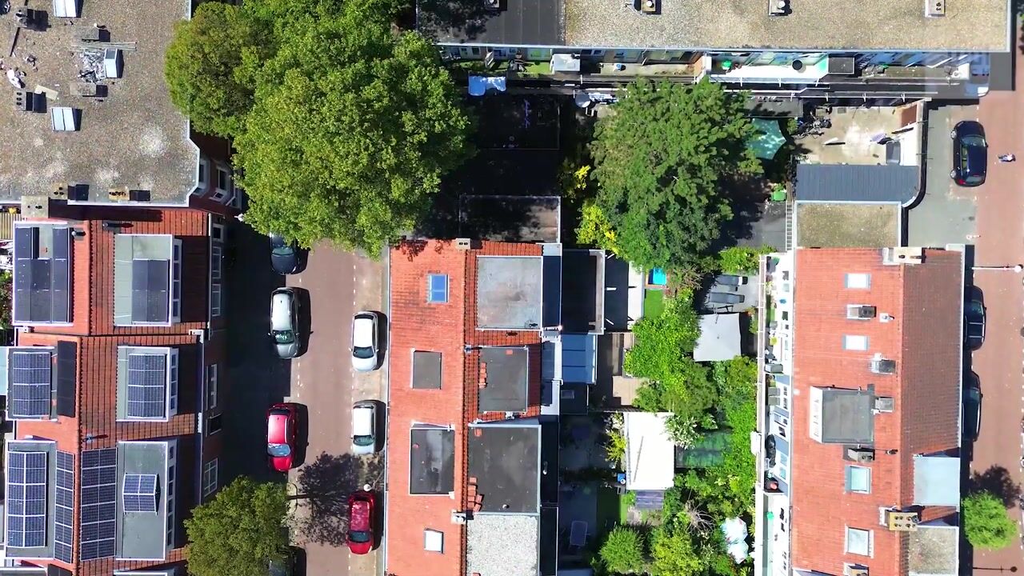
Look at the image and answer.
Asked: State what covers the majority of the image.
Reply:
buildings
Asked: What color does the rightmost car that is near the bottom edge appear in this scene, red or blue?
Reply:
red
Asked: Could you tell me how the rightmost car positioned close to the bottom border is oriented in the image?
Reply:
vertically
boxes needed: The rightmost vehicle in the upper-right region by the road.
[947,122,986,186]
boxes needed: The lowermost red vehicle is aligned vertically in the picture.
[344,492,375,552]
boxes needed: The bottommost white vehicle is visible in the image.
[348,402,378,453]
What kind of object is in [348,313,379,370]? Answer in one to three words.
car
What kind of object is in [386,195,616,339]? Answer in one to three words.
house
